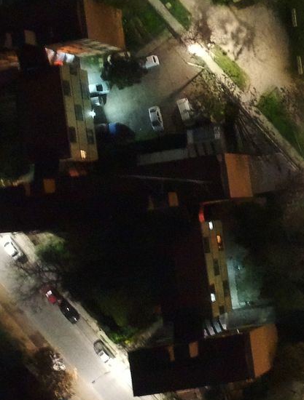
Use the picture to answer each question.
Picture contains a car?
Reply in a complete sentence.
Yes, a car is visible in the scene.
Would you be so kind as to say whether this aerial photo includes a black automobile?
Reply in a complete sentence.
Yes, there's a black automobile here.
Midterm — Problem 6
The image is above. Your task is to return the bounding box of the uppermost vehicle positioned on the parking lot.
[135,53,163,69]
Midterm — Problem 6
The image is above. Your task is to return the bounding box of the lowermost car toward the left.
[88,338,114,365]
